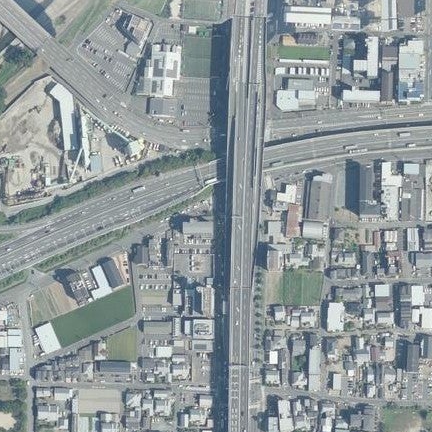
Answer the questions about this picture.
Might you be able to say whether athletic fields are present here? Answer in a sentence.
Yes, the picture does show an athletic field.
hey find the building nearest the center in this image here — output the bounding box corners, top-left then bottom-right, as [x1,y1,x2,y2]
[182,220,213,235]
